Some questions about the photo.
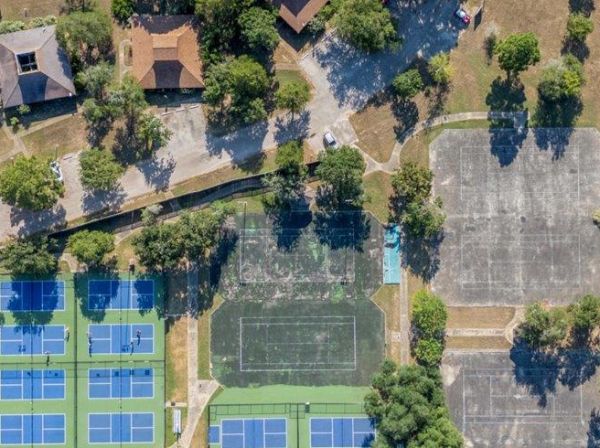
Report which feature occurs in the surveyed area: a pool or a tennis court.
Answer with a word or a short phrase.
tennis court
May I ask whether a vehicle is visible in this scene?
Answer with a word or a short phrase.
Yes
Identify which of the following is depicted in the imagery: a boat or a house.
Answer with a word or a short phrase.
house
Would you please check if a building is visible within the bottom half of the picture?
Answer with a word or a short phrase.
No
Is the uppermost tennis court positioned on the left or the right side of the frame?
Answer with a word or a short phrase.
right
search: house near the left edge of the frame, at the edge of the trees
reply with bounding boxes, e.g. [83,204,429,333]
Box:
[0,27,76,108]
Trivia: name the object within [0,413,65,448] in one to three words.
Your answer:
sports court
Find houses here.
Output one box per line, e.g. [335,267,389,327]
[0,27,76,108]
[132,15,205,89]
[264,0,328,33]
